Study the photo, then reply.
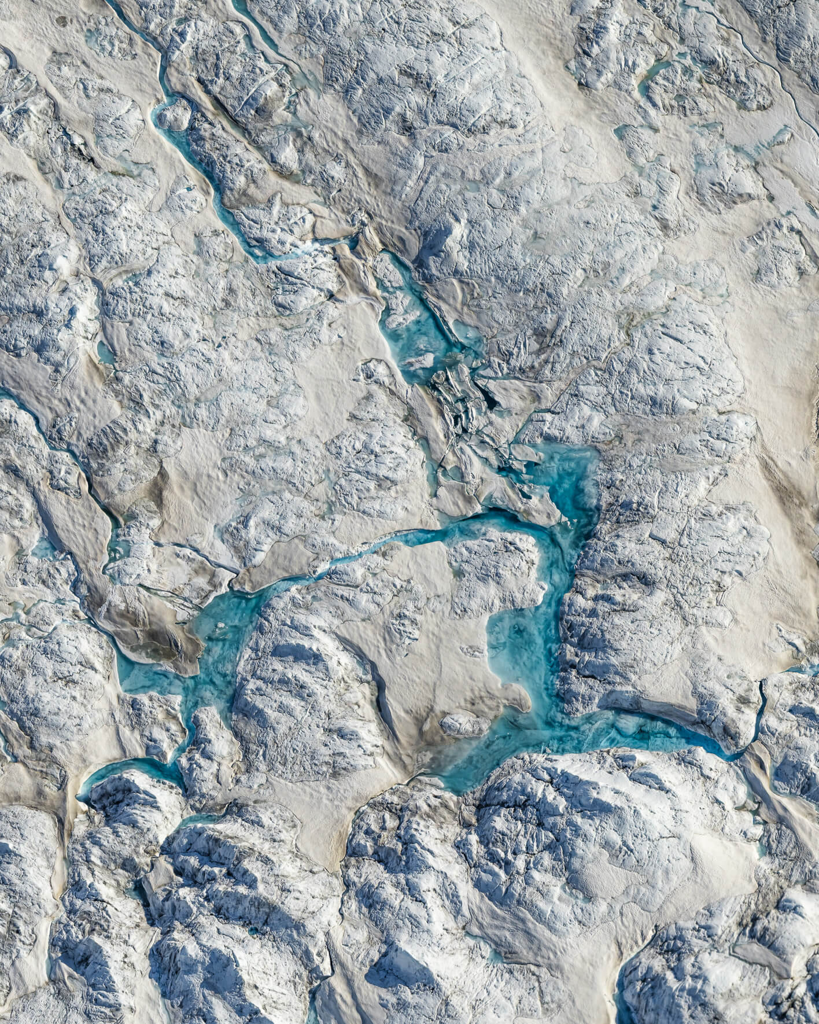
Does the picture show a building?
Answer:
No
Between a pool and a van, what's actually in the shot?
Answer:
pool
